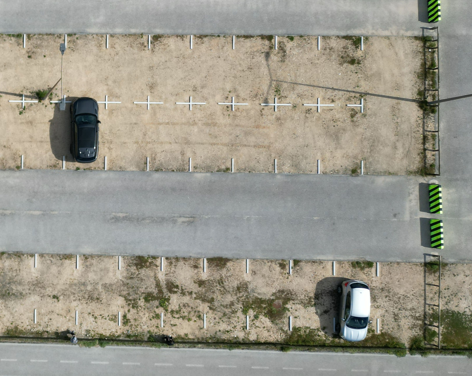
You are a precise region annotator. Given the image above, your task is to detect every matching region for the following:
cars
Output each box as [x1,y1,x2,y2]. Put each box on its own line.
[69,98,102,164]
[336,278,374,341]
